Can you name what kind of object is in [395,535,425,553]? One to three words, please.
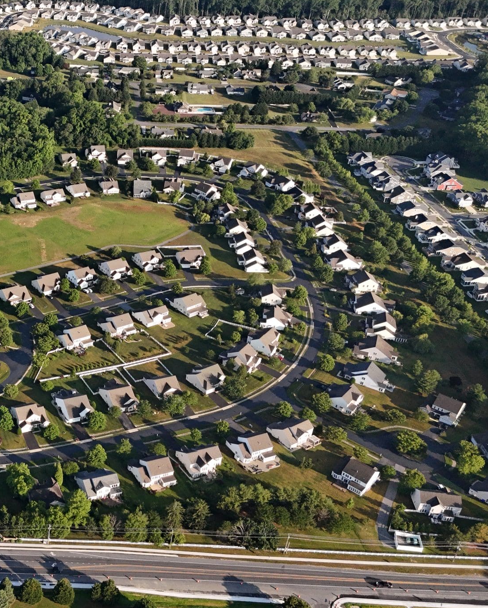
building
